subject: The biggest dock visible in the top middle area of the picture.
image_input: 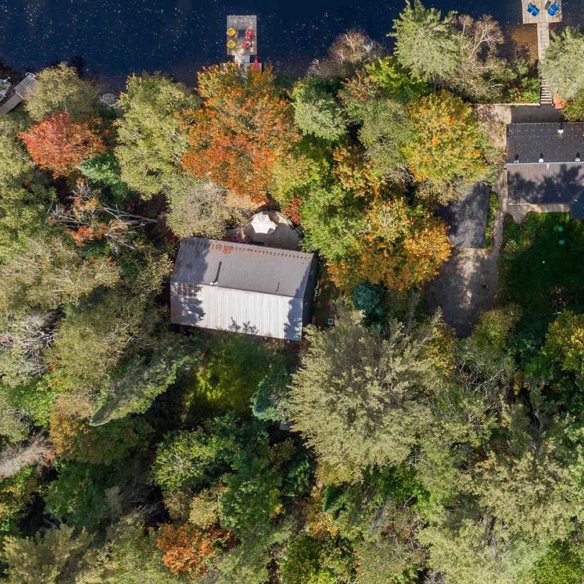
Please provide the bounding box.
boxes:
[227,15,258,55]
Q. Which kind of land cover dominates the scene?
trees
